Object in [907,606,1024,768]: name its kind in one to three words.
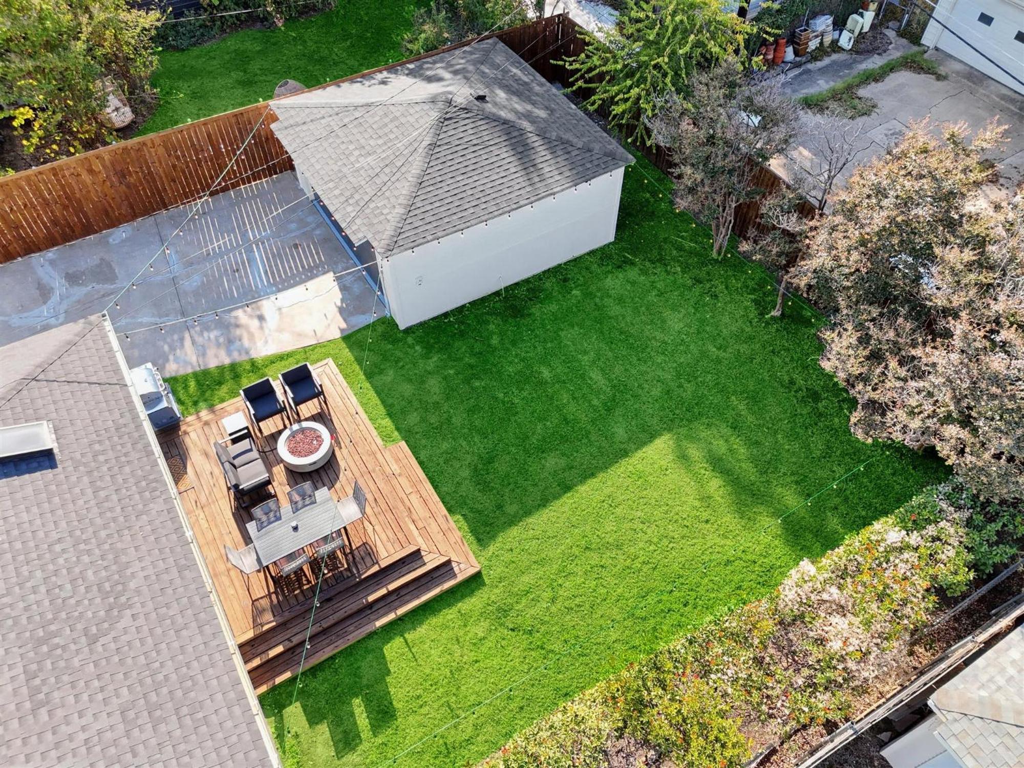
house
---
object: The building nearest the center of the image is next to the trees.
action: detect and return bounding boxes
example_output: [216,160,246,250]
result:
[267,38,635,329]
